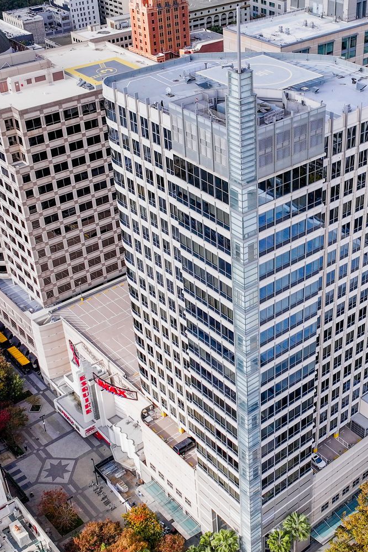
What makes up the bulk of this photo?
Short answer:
buildings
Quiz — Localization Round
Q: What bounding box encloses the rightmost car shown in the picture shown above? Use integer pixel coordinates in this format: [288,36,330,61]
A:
[312,453,328,467]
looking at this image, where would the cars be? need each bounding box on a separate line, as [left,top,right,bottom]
[173,438,194,454]
[312,453,328,467]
